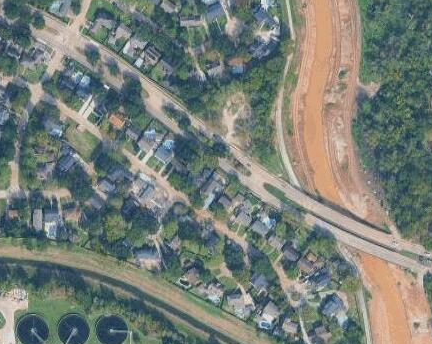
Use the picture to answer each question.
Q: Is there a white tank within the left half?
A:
No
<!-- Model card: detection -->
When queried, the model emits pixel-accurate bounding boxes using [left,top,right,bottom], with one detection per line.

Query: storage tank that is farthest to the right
[96,314,129,344]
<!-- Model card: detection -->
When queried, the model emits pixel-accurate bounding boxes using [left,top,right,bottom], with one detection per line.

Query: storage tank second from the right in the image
[58,314,90,344]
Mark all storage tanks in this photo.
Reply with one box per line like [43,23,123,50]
[17,314,49,344]
[96,314,129,344]
[58,314,90,344]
